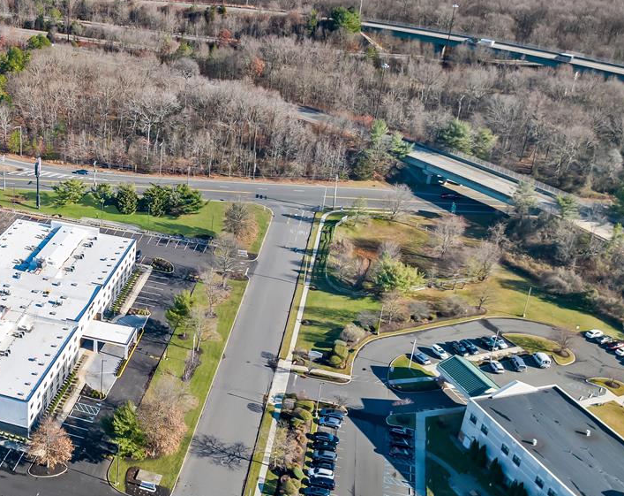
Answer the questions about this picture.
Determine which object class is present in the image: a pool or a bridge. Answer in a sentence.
Looking from above, you can make out a bridge.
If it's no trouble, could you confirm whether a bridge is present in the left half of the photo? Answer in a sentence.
No, no bridge is visible in the left half of the photo.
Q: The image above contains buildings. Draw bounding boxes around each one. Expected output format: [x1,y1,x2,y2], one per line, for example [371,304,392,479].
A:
[460,371,624,496]
[0,218,137,436]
